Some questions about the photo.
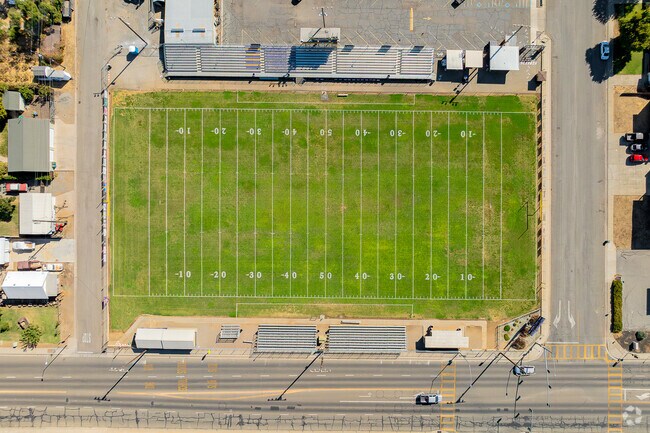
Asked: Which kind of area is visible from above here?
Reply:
sports ground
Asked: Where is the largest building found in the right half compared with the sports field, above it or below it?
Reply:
above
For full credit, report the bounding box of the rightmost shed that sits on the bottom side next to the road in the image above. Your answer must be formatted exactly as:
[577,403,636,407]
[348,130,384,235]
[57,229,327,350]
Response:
[161,326,198,349]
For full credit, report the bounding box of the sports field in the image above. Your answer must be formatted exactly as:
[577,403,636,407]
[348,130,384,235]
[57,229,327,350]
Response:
[105,88,541,336]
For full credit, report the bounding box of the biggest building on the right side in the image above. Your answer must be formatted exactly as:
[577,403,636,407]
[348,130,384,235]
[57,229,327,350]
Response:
[487,46,519,72]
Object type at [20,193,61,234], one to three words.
house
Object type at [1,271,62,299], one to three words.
house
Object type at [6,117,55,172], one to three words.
building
